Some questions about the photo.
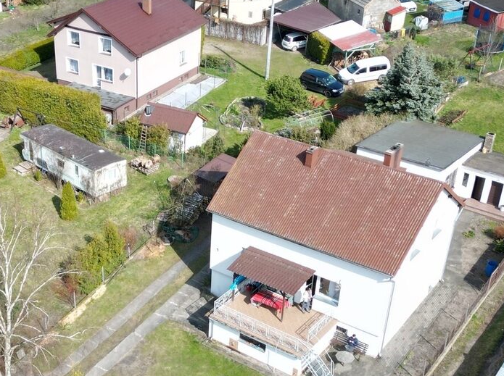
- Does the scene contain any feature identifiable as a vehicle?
Yes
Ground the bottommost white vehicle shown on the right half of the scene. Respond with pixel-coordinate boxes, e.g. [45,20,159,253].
[343,55,388,83]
